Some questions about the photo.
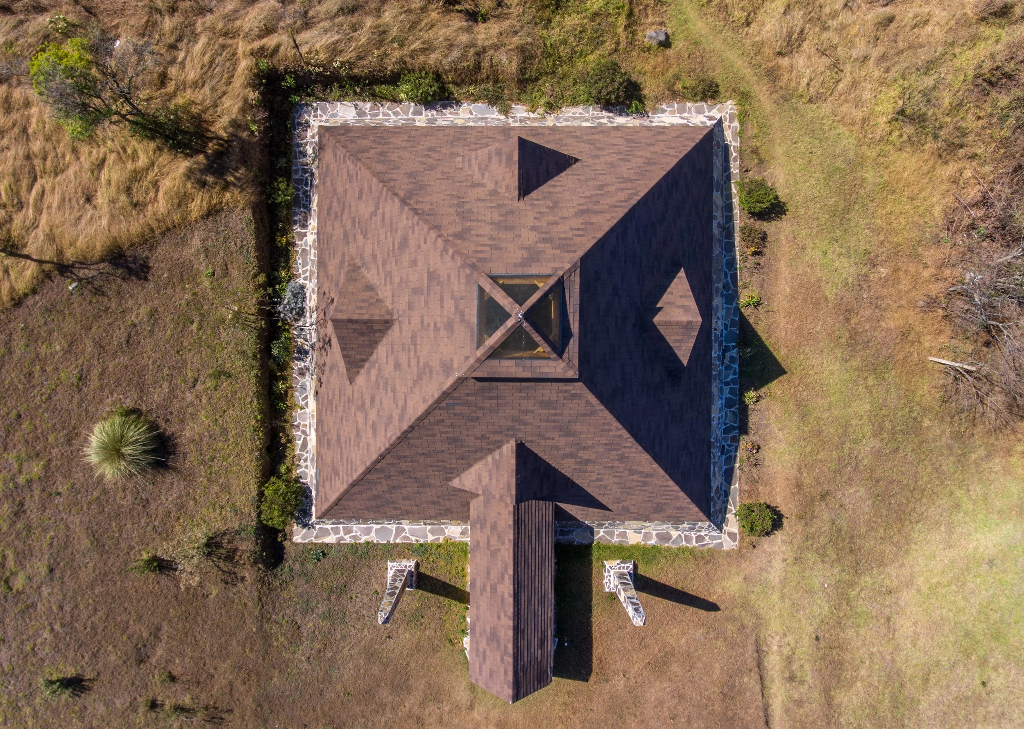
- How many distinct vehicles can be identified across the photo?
none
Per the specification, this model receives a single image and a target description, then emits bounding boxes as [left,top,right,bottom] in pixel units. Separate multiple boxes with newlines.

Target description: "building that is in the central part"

[309,116,724,704]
